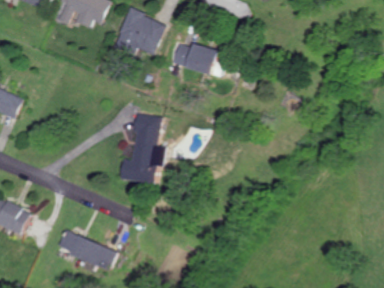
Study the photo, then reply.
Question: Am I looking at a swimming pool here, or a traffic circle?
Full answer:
Looking from above, you can make out a swimming pool.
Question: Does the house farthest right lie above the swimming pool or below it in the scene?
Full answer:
You can see the house farthest right above the swimming pool in the frame.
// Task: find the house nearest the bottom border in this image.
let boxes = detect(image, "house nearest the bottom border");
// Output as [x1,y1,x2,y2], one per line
[59,230,118,272]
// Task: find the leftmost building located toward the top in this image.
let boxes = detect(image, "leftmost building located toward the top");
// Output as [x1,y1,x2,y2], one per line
[0,89,26,118]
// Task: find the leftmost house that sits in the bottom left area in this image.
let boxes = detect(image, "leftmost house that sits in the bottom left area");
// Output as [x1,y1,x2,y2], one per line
[0,200,32,236]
